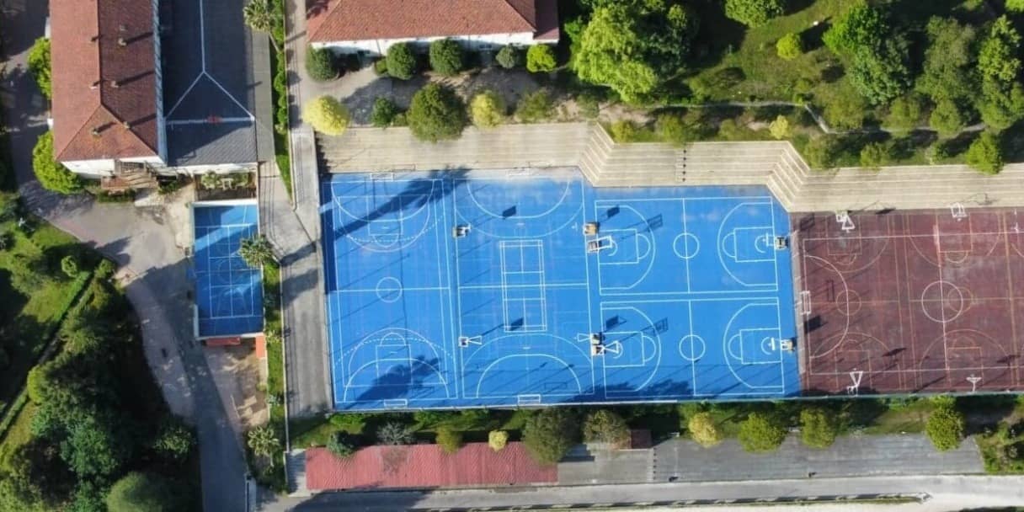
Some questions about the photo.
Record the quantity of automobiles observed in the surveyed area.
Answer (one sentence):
Not a single automobile can be seen.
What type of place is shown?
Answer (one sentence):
The area seen from above is a sports ground.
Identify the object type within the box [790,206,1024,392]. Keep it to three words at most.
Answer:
sports court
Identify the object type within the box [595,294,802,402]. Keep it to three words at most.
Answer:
basketball court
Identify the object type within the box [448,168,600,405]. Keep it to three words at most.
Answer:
sports court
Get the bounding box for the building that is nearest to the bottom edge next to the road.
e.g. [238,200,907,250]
[305,442,558,490]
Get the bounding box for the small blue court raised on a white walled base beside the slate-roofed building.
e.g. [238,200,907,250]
[192,198,267,340]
